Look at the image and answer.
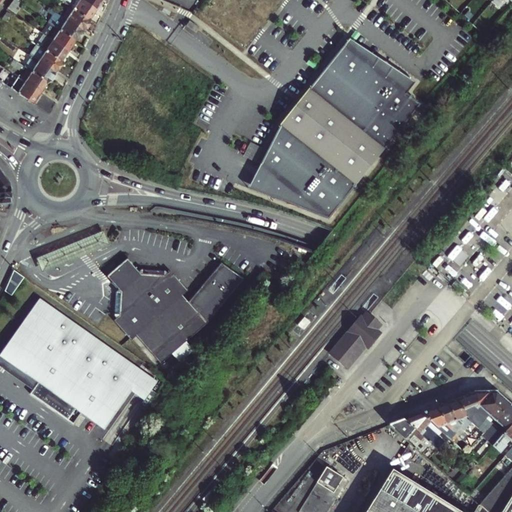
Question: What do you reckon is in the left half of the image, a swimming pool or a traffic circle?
traffic circle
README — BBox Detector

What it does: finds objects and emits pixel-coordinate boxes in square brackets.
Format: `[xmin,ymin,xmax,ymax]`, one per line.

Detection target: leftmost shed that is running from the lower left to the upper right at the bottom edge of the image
[278,474,316,512]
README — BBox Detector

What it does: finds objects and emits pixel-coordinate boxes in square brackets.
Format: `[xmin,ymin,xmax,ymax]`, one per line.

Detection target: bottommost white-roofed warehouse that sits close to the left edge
[0,298,157,430]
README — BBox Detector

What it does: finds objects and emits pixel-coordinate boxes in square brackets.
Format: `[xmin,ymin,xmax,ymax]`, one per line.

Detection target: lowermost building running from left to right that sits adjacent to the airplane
[366,470,460,512]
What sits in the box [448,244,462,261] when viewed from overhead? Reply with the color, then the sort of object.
white camper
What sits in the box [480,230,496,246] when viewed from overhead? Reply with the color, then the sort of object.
white camper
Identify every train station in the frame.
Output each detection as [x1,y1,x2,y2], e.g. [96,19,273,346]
[328,308,383,370]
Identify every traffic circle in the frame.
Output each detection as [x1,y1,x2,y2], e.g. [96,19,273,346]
[18,140,100,221]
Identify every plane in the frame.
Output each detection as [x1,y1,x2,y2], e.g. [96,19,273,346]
[390,452,413,470]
